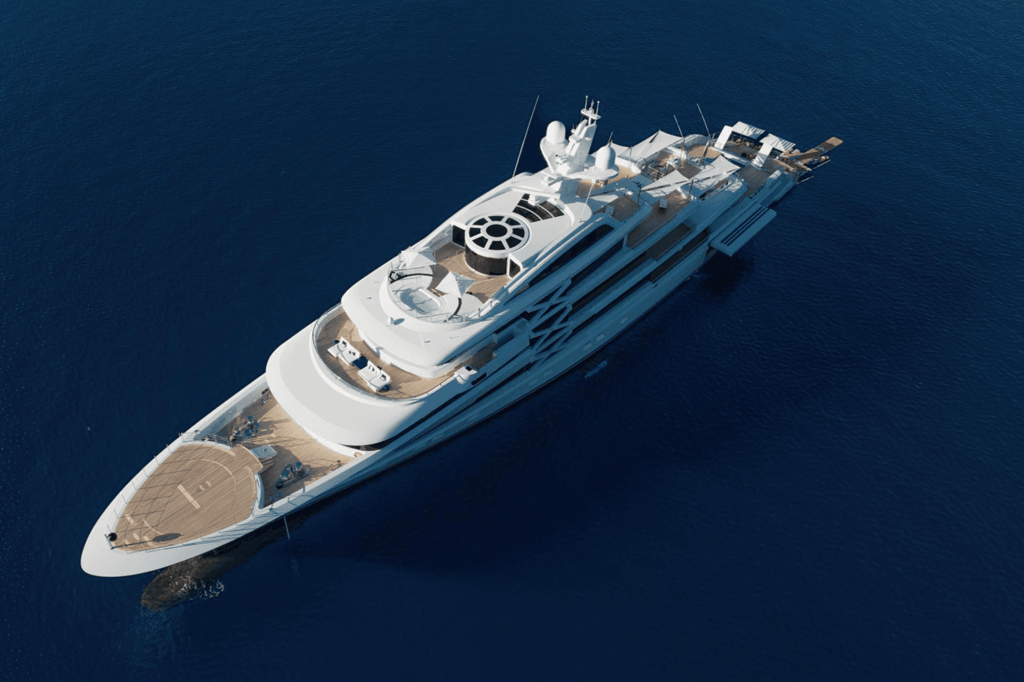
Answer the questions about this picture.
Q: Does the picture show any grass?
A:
No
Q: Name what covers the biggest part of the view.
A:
water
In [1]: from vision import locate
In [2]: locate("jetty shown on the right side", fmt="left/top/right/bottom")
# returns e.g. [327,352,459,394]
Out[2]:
[792,138,843,166]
